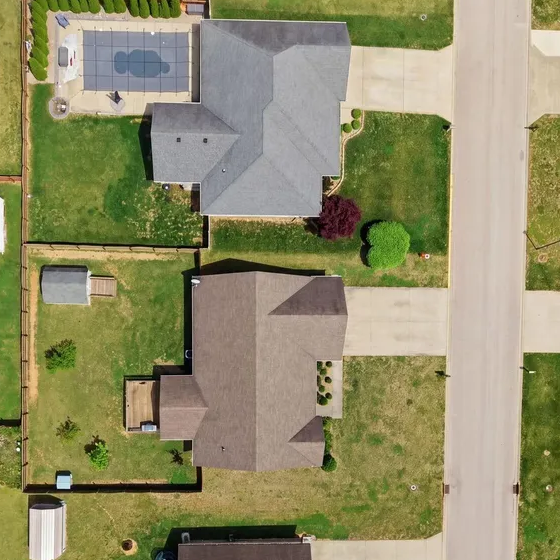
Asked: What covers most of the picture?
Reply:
grass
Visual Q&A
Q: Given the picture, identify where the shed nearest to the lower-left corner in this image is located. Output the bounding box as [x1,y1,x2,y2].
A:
[30,506,66,560]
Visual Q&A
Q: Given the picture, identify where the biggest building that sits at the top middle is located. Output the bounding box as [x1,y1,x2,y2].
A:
[150,18,352,219]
